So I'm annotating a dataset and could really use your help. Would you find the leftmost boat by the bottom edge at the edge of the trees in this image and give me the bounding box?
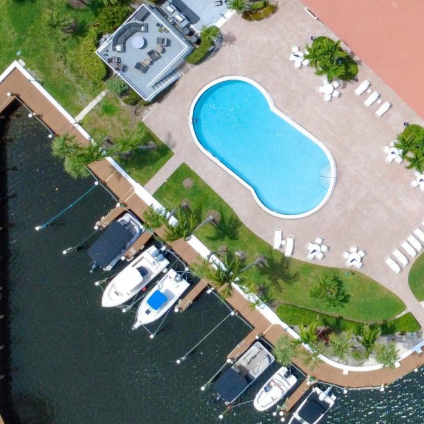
[211,342,273,406]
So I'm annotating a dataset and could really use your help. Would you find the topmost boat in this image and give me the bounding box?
[84,215,144,270]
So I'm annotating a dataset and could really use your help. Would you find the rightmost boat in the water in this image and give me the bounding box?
[288,389,330,424]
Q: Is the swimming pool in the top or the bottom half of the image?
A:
top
